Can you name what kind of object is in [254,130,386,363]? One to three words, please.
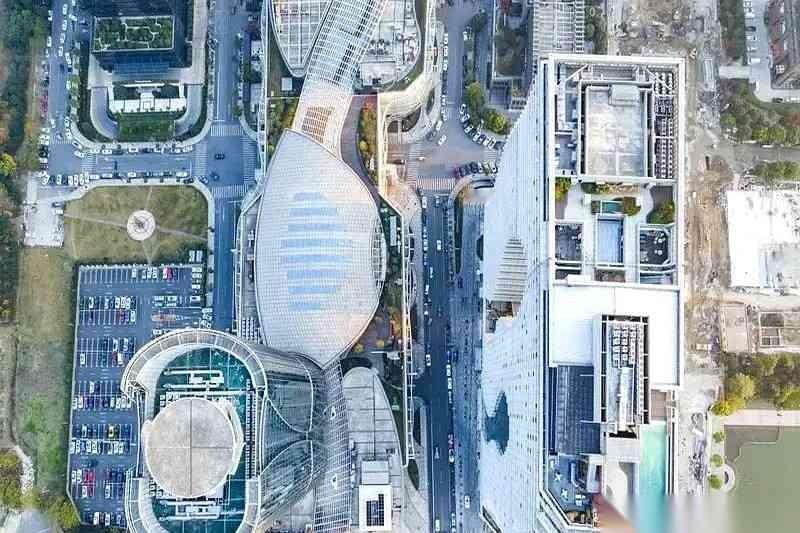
building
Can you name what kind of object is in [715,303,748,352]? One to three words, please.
building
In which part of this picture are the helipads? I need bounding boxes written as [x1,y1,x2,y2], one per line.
[141,394,252,498]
